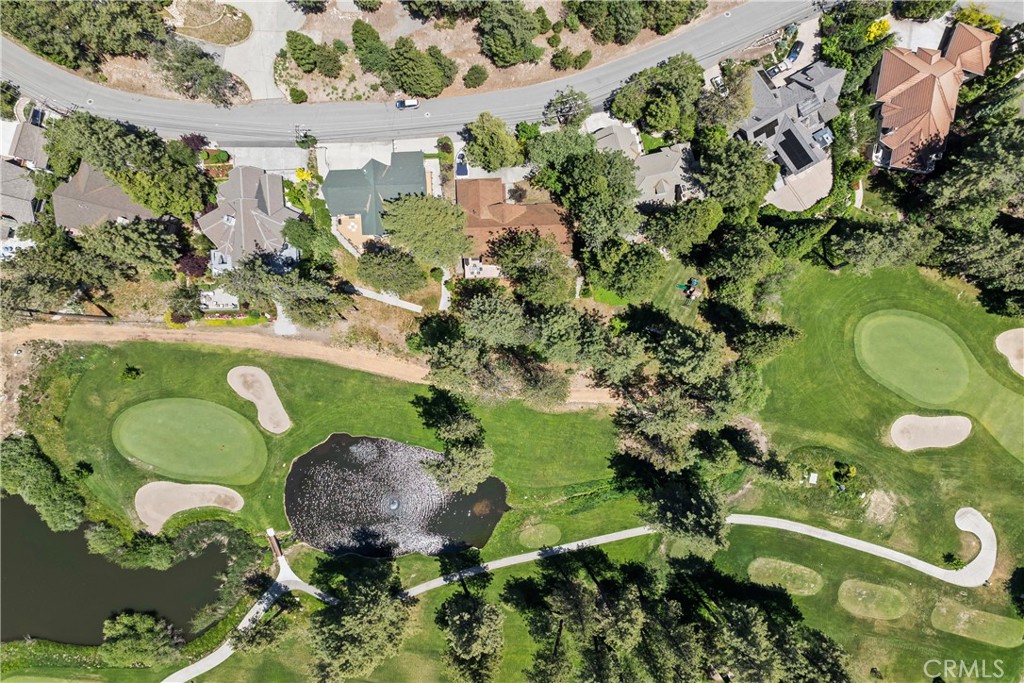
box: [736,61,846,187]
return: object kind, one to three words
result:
house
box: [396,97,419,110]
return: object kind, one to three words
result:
vehicle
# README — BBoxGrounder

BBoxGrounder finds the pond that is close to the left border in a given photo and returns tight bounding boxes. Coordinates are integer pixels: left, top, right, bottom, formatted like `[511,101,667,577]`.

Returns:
[0,474,227,646]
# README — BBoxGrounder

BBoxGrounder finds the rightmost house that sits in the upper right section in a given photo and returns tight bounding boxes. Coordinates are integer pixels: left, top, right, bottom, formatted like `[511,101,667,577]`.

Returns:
[870,22,999,179]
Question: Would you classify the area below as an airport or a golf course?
golf course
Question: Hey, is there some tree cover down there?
Yes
